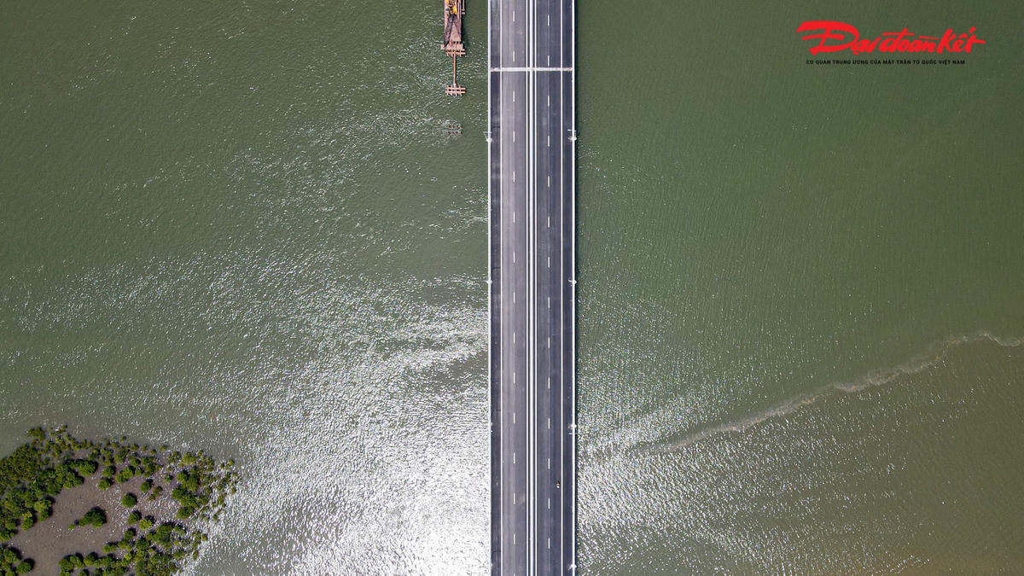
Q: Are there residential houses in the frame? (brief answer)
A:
No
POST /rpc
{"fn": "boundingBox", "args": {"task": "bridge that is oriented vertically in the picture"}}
[489,0,575,576]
